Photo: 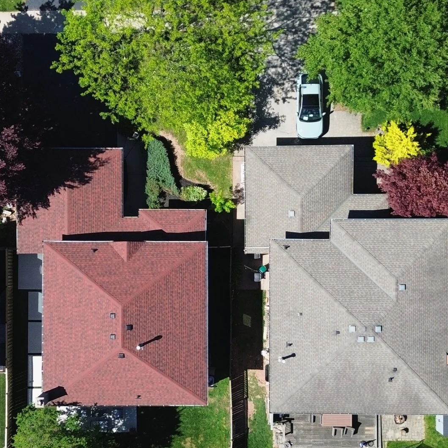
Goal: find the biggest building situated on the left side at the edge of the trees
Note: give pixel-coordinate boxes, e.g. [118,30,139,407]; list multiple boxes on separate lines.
[14,146,209,409]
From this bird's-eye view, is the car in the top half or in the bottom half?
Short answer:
top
